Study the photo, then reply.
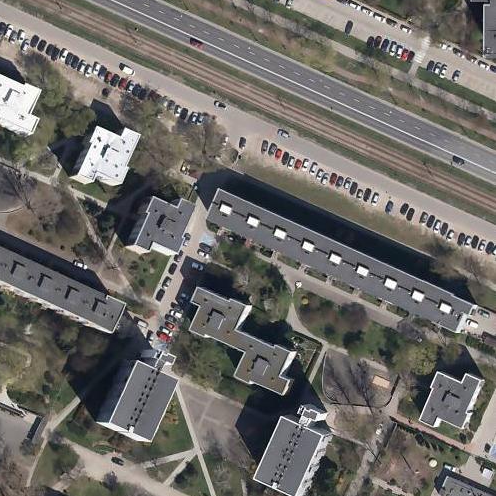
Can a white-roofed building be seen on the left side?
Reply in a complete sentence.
Yes, a white-roofed building appears on the left side.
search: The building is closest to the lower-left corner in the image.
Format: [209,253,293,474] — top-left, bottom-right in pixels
[103,361,178,441]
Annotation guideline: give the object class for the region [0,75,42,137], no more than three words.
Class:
building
